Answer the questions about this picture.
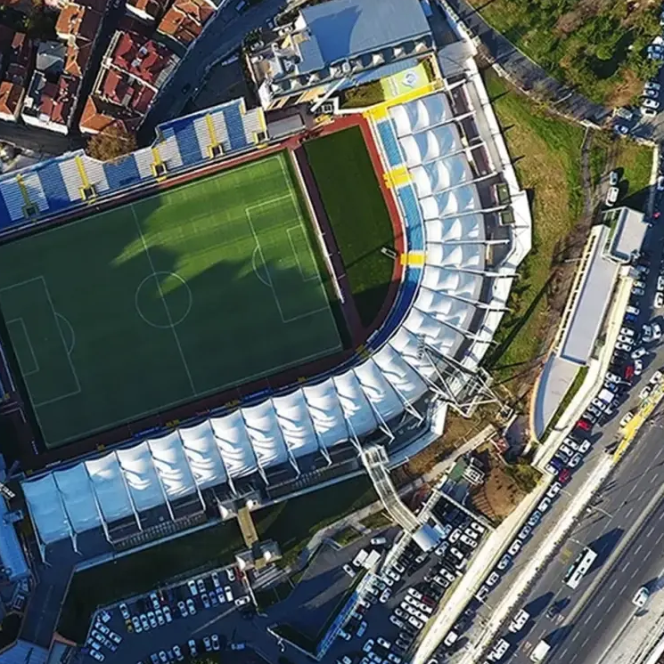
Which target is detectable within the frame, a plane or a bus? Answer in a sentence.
The one in the frame is a bus.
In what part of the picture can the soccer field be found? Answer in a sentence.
Look in the left portion of the view to spot the soccer field.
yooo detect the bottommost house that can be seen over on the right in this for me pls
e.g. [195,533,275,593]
[413,519,446,552]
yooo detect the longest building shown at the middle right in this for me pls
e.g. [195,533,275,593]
[544,207,649,366]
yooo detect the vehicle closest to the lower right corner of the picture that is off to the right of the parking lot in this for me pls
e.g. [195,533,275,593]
[635,590,649,608]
